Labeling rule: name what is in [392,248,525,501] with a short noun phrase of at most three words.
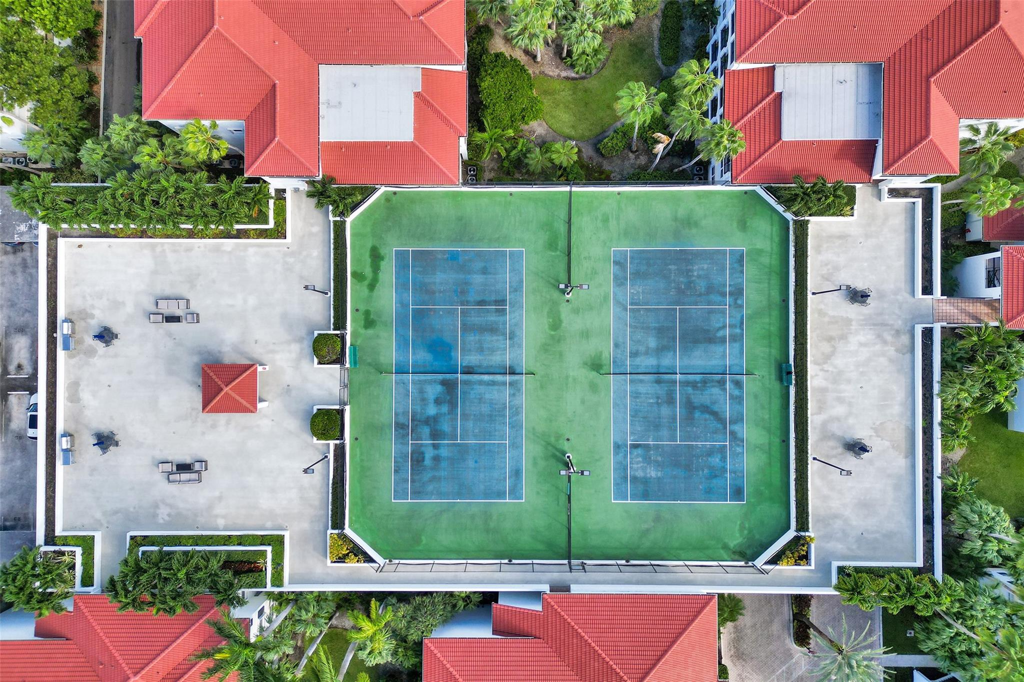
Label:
tennis court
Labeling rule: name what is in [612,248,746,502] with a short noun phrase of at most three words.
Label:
tennis court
